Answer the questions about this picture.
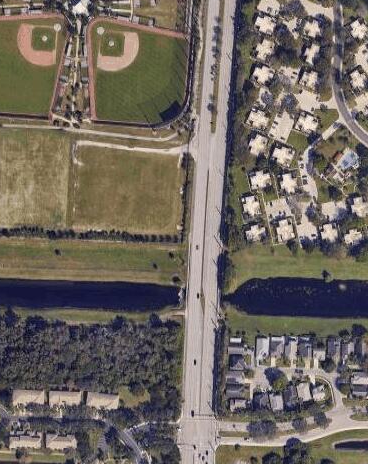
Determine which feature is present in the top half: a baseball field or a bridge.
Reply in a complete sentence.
Looking in the top half, you will find a baseball field.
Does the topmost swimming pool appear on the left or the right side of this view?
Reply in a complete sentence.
The topmost swimming pool is on the right side of the image.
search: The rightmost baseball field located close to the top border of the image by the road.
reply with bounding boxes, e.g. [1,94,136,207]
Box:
[89,19,191,128]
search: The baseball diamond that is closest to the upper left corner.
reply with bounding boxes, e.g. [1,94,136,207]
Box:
[0,15,69,116]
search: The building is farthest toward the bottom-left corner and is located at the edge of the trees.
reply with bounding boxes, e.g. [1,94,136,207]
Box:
[10,435,40,449]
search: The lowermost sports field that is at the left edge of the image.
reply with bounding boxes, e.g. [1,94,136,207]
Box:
[0,129,69,231]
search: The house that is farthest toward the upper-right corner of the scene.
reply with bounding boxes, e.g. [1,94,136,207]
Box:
[348,17,368,41]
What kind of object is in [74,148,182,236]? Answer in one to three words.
sports field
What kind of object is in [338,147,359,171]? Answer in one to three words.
swimming pool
